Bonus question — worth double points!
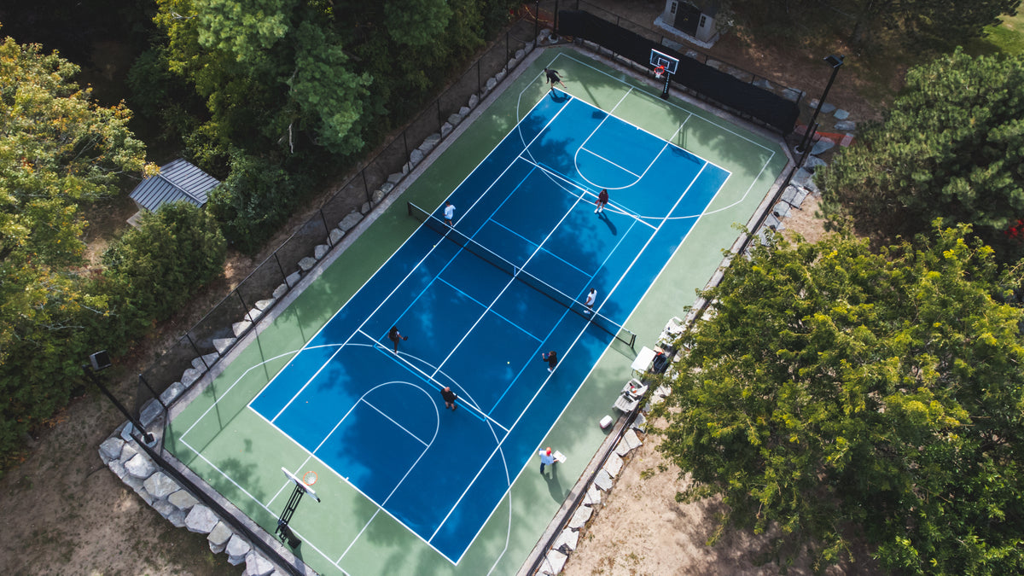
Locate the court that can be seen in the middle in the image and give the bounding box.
[158,48,793,576]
